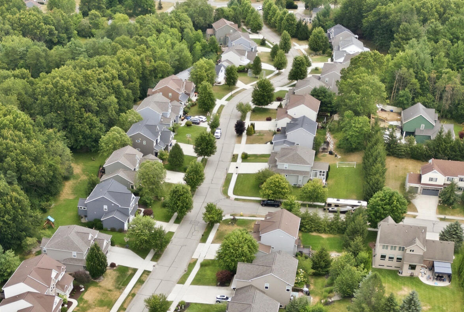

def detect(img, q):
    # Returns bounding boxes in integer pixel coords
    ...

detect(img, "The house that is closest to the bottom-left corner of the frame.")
[0,251,75,312]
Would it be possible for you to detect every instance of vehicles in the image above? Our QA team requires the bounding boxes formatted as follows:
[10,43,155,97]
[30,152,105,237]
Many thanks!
[325,197,369,213]
[214,294,233,303]
[182,113,194,119]
[196,115,208,123]
[261,198,282,208]
[215,129,222,137]
[187,116,202,125]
